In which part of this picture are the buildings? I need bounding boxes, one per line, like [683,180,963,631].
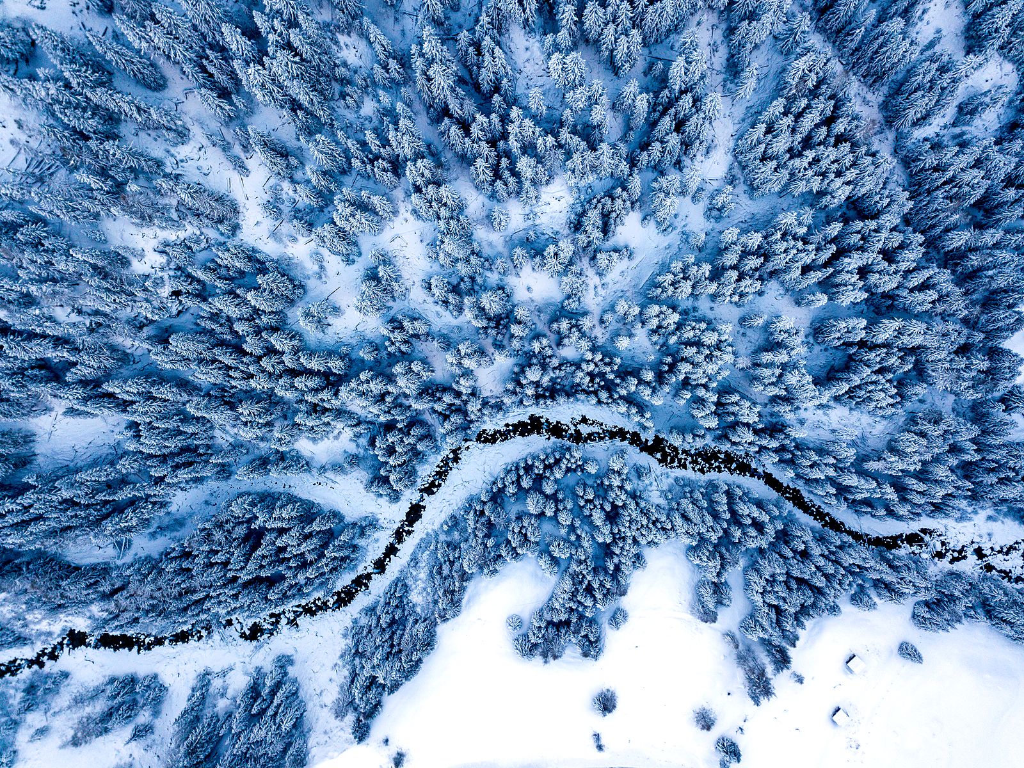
[844,652,867,675]
[829,705,851,727]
